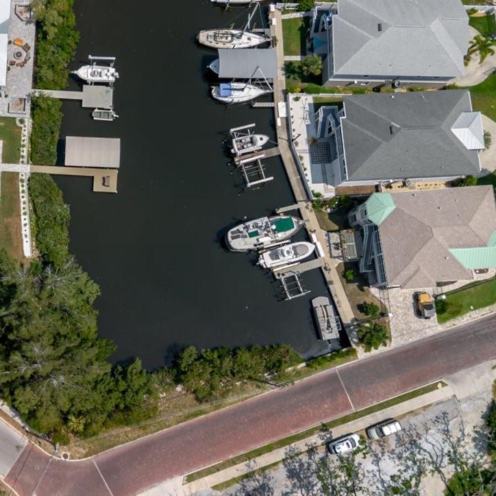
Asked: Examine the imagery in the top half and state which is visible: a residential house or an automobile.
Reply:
residential house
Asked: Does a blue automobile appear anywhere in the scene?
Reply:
No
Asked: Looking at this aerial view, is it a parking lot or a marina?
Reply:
marina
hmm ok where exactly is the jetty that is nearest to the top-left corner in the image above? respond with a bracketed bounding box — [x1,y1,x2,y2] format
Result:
[30,84,114,110]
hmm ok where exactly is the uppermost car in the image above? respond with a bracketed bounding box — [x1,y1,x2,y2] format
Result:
[416,291,434,320]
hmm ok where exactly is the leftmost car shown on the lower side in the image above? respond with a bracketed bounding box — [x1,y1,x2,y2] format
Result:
[327,434,360,454]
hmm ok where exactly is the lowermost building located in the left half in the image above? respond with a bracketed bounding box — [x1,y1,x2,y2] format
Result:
[64,136,120,170]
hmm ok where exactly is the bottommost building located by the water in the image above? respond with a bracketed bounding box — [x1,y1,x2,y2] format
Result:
[347,184,496,314]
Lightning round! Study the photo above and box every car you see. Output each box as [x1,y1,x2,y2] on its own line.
[365,419,402,438]
[416,291,434,320]
[327,434,360,454]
